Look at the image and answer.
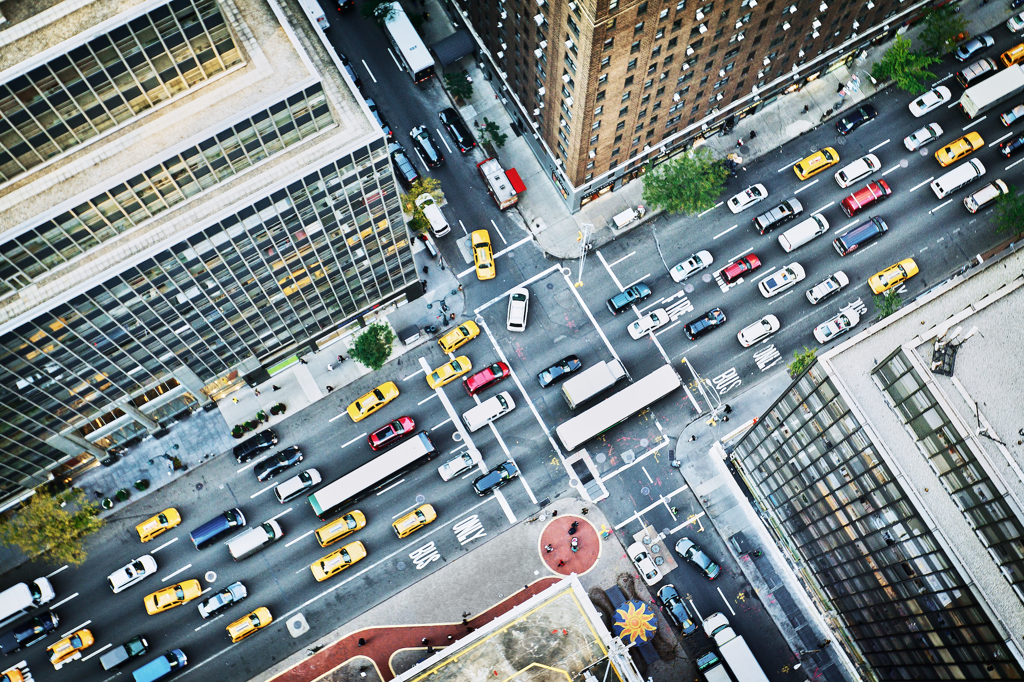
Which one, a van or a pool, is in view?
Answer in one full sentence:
There is a van in the scene.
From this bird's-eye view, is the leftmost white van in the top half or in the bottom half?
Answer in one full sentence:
The leftmost white van is in the bottom half of the image.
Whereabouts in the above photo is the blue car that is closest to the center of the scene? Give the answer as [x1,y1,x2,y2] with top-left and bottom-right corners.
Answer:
[538,355,582,388]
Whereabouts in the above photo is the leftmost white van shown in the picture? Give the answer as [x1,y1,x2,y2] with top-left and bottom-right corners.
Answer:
[0,583,58,628]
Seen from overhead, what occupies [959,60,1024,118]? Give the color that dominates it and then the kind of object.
white truck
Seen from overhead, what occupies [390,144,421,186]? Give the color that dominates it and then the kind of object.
blue car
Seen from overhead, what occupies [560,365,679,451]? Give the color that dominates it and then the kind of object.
white bus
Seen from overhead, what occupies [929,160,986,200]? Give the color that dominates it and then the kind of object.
white van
